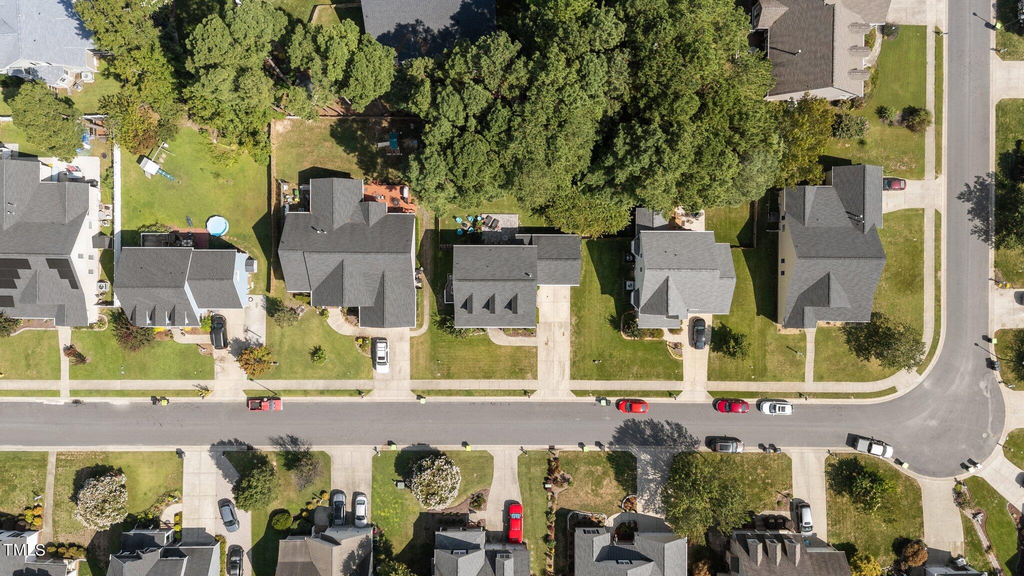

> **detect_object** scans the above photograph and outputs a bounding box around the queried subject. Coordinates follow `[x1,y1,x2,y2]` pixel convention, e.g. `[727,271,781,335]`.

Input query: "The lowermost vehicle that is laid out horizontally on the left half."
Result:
[248,398,283,413]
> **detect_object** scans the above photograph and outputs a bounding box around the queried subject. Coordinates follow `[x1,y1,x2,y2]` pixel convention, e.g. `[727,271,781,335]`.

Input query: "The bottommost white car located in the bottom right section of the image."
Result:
[797,503,815,535]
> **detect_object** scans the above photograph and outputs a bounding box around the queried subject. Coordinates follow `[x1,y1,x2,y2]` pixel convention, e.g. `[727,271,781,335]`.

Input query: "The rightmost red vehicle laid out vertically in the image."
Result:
[508,504,523,543]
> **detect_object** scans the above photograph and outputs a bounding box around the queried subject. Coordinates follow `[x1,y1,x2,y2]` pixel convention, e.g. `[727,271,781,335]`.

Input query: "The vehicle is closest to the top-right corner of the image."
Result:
[883,177,907,191]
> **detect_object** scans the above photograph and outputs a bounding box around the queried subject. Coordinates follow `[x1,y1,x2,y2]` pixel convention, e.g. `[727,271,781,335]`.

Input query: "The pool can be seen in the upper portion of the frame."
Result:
[200,214,228,237]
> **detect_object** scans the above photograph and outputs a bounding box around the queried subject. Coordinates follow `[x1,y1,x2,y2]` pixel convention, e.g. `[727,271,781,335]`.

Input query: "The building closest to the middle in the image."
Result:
[444,234,582,329]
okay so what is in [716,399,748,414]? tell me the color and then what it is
red car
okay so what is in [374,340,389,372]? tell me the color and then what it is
white car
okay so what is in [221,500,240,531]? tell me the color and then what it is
gray car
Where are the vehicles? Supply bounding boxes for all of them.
[248,398,283,413]
[716,399,748,414]
[797,503,815,535]
[760,401,794,416]
[330,492,346,526]
[508,504,523,543]
[227,545,244,576]
[618,399,648,414]
[692,319,707,349]
[221,500,240,531]
[210,315,228,348]
[883,177,907,191]
[294,189,302,200]
[853,436,892,457]
[374,340,389,372]
[711,438,743,454]
[353,494,368,527]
